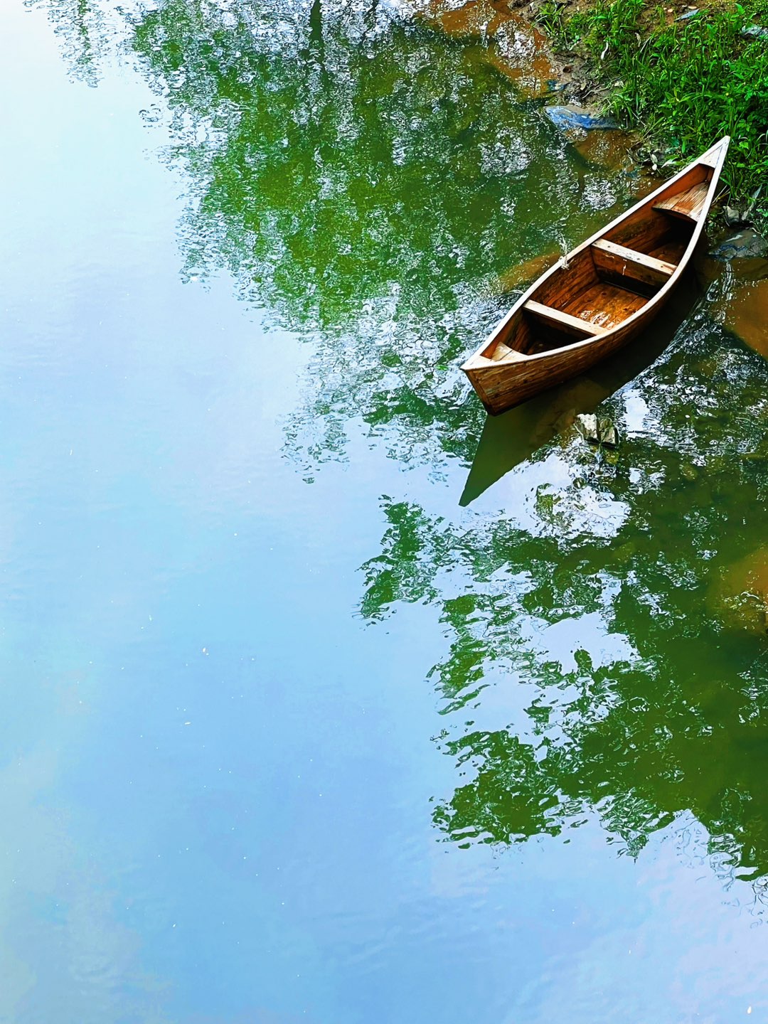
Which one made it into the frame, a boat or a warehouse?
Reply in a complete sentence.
This aerial view contains a boat.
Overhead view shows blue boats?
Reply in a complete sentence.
No, the picture doesn't show any blue boat.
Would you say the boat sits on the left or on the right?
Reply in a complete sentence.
The boat appears in the right half of the scene.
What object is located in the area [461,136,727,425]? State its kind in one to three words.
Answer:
boat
